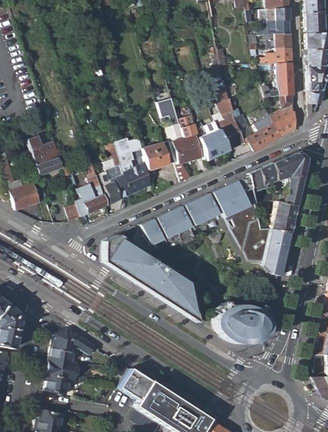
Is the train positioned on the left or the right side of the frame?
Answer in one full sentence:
The train appears in the left half of the scene.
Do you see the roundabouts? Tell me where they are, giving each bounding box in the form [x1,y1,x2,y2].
[238,386,304,432]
